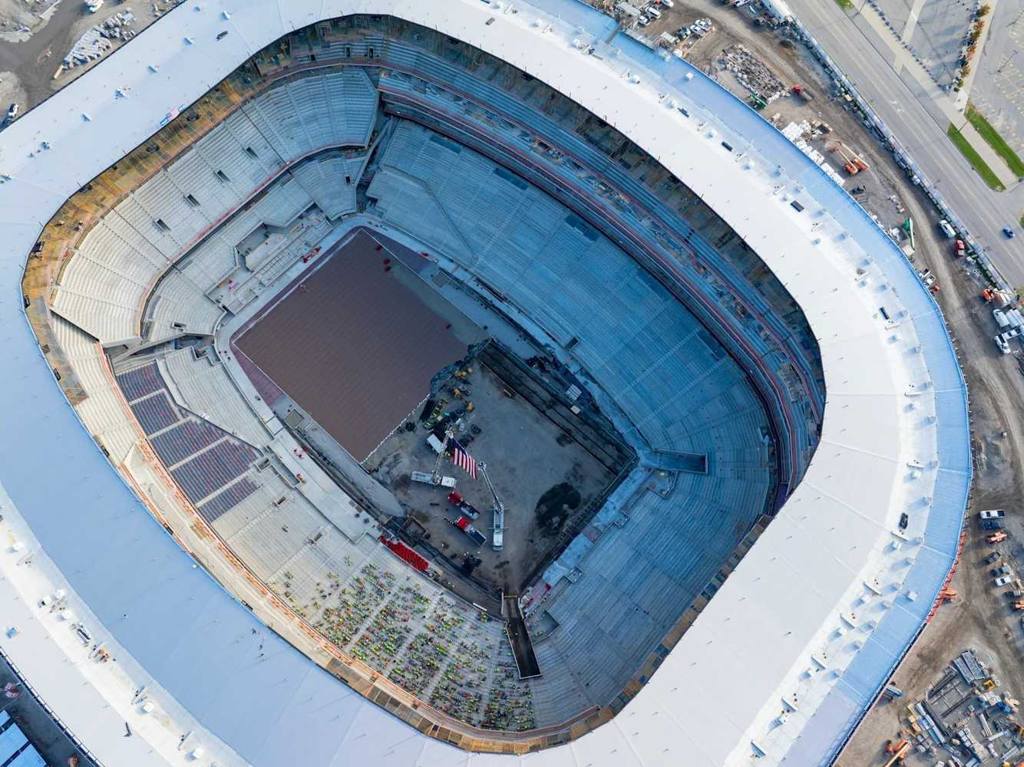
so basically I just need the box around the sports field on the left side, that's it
[228,222,490,461]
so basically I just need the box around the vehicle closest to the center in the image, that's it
[502,385,518,401]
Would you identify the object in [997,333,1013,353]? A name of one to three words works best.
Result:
vehicle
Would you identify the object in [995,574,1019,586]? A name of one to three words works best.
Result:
vehicle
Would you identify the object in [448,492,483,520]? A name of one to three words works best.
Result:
truck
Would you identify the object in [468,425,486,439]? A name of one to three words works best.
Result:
work vehicle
